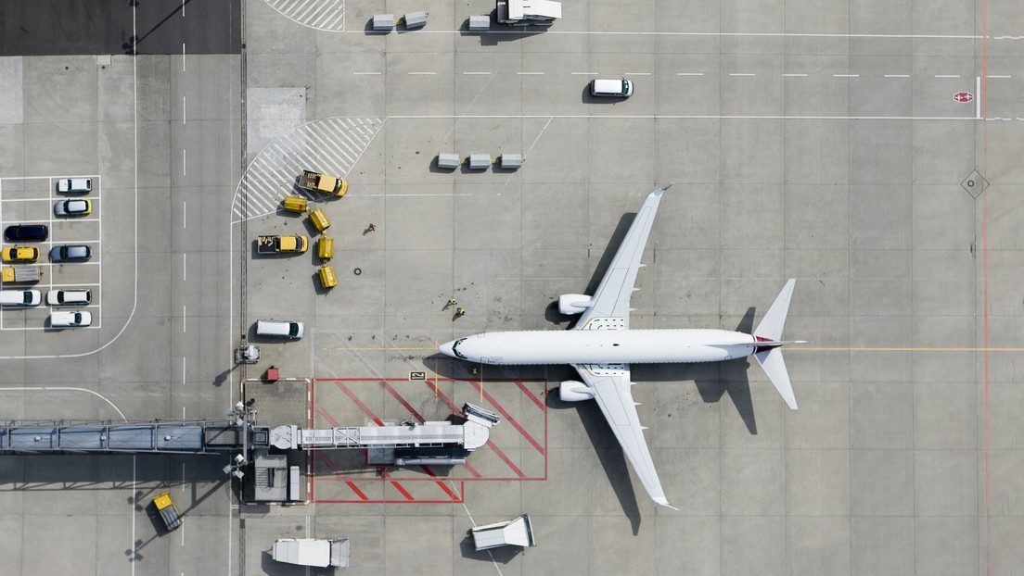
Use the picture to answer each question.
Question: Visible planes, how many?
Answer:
one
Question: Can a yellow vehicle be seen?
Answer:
Yes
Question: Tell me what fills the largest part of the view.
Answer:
paved ground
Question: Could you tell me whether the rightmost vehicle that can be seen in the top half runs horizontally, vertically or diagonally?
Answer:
horizontally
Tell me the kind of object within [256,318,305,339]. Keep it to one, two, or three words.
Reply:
vehicle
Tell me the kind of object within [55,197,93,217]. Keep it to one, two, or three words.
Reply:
car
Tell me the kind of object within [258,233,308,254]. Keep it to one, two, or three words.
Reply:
truck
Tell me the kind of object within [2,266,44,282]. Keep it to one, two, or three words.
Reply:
work vehicle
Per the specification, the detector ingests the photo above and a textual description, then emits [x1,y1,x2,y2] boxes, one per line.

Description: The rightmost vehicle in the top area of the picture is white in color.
[590,77,634,97]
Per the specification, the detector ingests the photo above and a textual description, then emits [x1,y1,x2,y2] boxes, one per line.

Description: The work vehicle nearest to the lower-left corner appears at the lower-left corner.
[151,492,183,531]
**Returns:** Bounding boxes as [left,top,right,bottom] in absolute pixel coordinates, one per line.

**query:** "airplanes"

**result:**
[438,182,809,508]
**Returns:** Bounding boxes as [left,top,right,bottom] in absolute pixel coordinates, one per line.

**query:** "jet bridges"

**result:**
[269,402,503,465]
